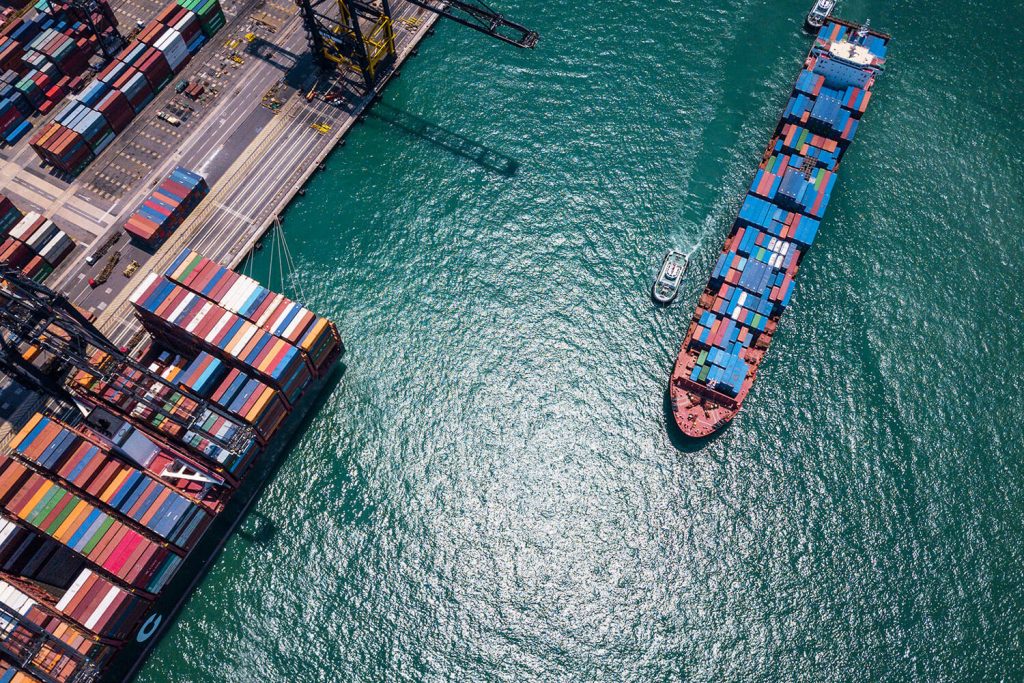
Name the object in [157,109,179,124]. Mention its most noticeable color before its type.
white vehicle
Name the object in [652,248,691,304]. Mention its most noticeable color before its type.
white boat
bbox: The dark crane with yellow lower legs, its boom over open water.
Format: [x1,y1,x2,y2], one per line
[289,0,538,94]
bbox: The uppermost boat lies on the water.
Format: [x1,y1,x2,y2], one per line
[808,0,838,29]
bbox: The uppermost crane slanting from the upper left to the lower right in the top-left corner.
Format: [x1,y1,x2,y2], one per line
[37,0,122,61]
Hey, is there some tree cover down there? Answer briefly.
No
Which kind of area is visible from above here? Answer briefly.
port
